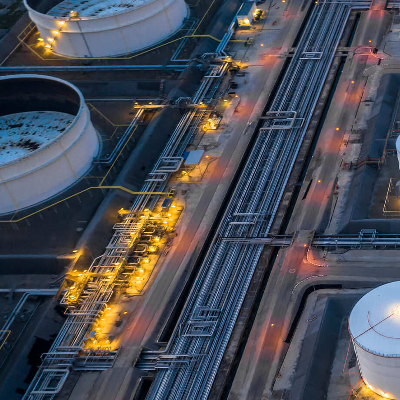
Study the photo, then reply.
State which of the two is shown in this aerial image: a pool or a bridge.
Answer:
bridge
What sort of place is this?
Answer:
industrial area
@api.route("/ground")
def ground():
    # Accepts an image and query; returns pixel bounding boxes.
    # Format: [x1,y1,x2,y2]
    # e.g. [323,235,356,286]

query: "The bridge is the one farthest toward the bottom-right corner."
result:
[279,213,324,265]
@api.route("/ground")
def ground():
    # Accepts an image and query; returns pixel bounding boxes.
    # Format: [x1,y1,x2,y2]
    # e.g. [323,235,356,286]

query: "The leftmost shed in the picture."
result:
[235,9,257,26]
